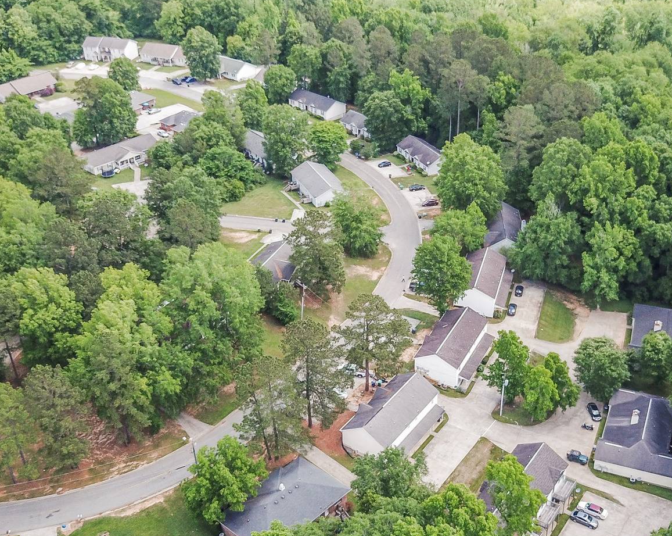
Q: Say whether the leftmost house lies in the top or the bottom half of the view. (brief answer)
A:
top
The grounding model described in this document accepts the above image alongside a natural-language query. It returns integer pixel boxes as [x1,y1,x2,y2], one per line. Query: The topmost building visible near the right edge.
[629,300,672,360]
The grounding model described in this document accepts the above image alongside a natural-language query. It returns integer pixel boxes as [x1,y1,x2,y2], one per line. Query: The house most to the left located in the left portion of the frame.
[0,72,57,107]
